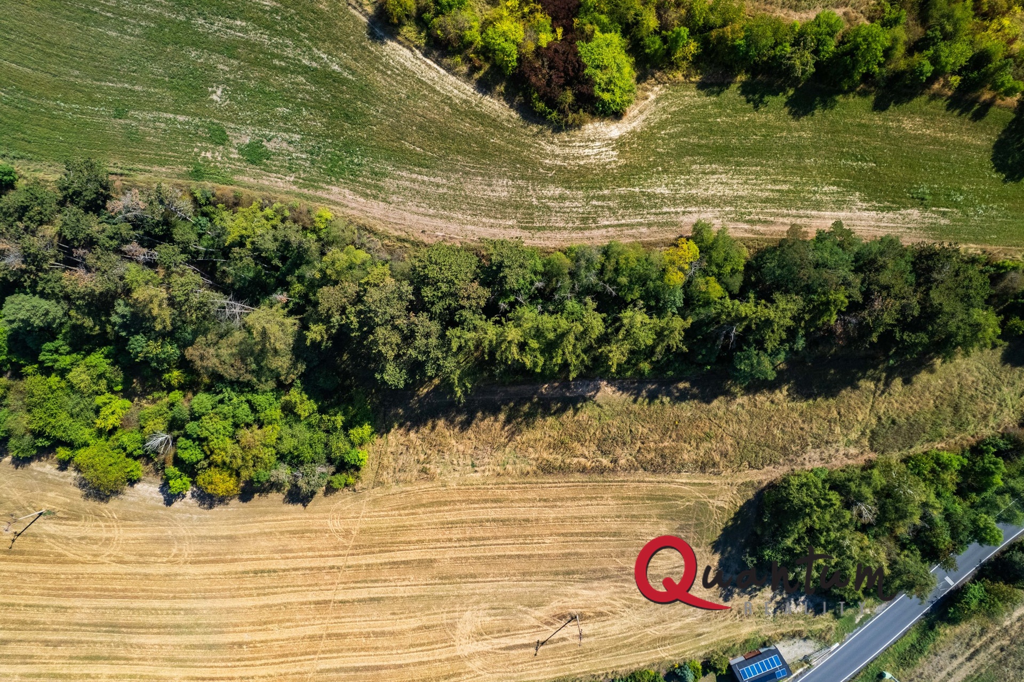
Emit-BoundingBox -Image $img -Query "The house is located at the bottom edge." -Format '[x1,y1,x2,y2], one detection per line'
[728,641,786,682]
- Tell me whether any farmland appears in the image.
Yes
